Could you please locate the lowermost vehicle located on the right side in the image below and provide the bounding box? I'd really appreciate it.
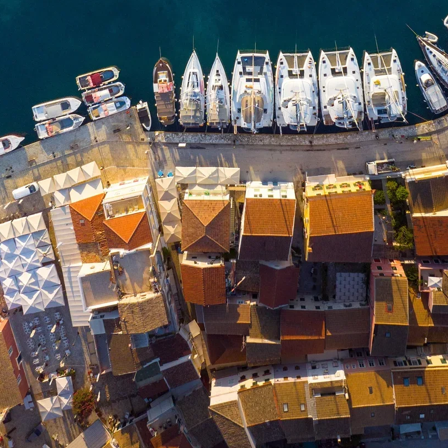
[367,160,400,177]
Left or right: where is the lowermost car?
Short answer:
left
